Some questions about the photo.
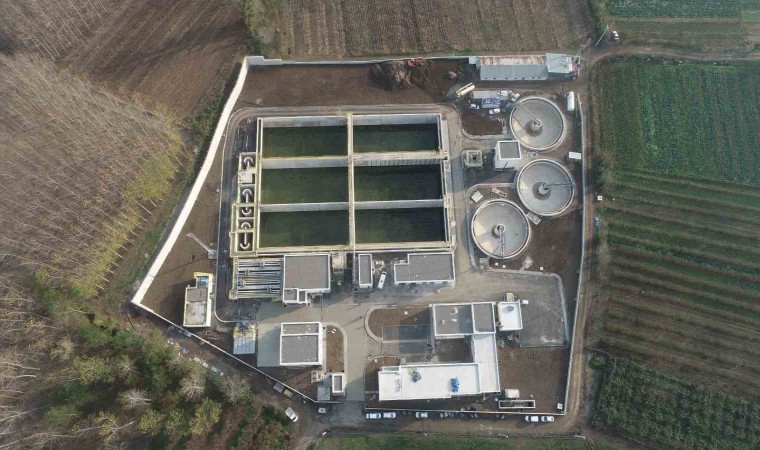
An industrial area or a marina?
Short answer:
industrial area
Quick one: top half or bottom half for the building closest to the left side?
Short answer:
bottom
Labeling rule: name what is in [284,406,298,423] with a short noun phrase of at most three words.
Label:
vehicle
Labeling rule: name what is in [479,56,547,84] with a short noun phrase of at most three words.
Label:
shed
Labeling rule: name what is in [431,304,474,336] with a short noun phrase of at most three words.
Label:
building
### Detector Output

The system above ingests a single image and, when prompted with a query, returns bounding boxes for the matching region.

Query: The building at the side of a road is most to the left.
[183,273,215,327]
